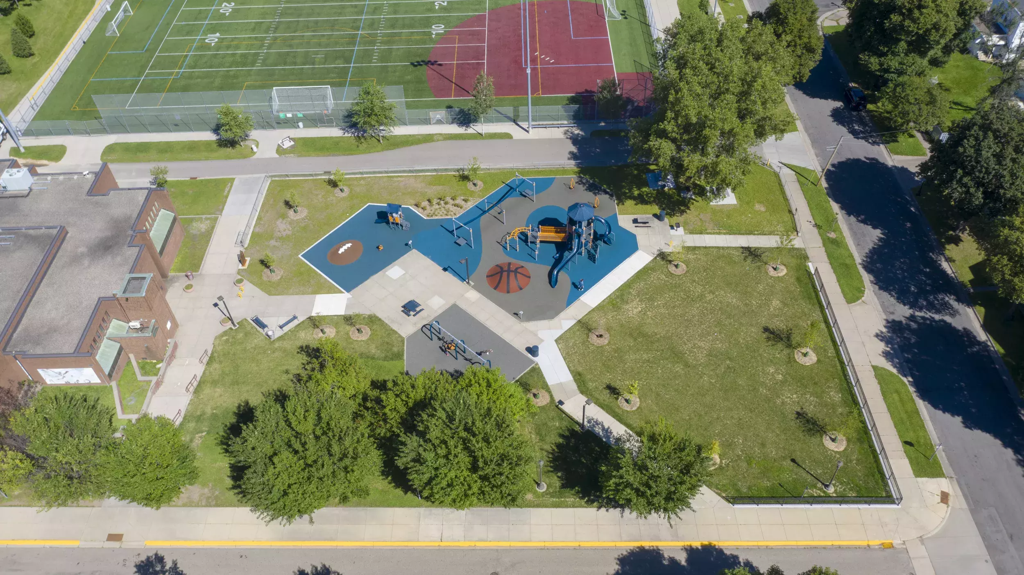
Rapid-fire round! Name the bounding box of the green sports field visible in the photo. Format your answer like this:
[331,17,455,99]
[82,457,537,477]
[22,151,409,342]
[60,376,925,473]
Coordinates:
[22,0,663,134]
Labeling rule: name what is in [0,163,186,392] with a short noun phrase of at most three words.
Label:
building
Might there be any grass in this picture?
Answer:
Yes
